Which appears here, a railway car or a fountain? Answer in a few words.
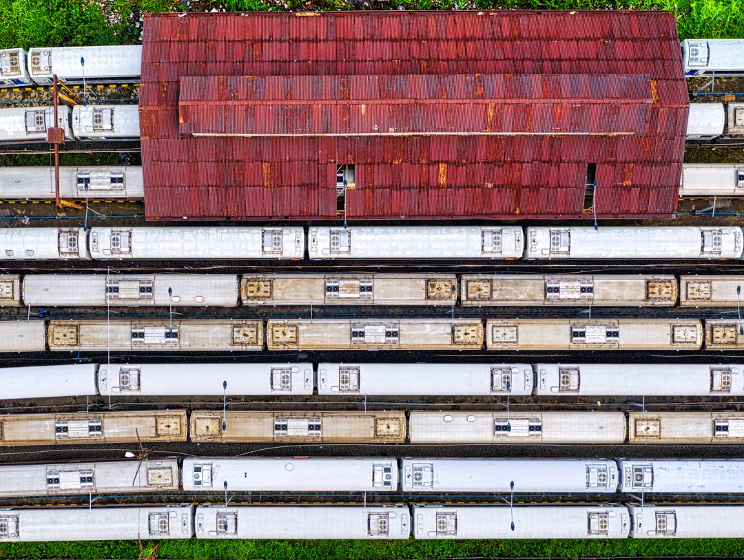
railway car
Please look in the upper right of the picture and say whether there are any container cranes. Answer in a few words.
No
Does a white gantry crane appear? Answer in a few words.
No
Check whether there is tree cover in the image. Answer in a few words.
No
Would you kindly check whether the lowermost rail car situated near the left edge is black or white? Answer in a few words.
white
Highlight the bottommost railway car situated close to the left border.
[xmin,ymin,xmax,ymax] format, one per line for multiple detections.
[0,503,196,542]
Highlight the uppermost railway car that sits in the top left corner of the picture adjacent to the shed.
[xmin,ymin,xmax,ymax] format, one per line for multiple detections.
[28,44,143,85]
